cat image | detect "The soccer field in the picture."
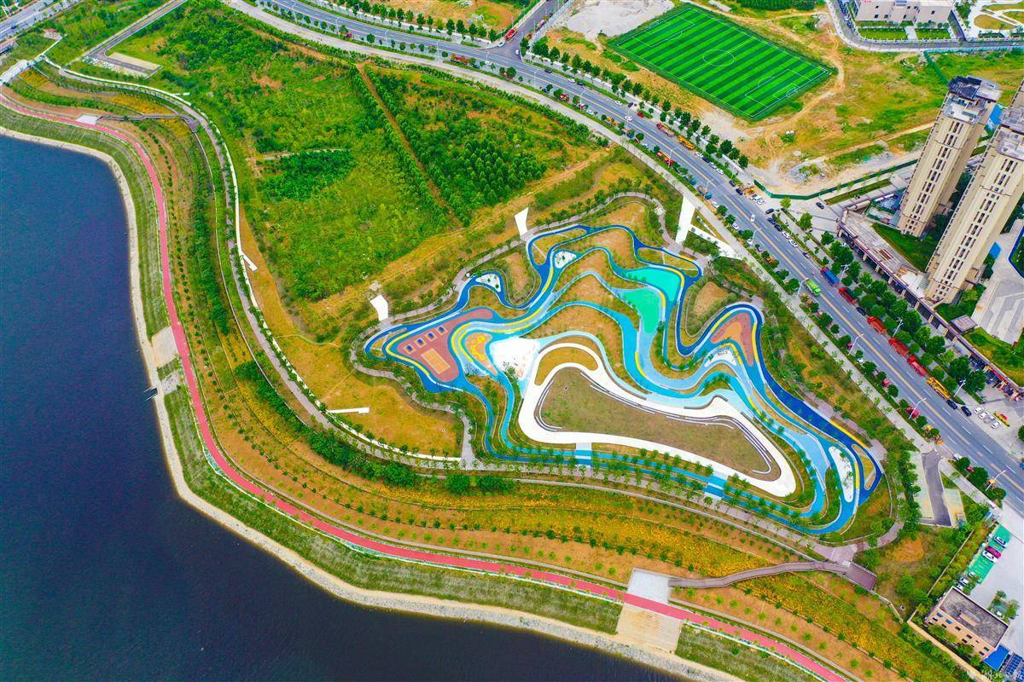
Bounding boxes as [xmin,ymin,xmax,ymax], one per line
[608,2,839,121]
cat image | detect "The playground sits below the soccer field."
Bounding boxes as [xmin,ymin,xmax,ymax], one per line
[357,224,885,535]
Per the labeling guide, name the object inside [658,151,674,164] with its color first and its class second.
red vehicle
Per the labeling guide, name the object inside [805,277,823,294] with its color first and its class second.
green vehicle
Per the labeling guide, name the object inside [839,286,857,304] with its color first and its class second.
red vehicle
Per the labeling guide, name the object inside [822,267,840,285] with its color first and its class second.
blue vehicle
